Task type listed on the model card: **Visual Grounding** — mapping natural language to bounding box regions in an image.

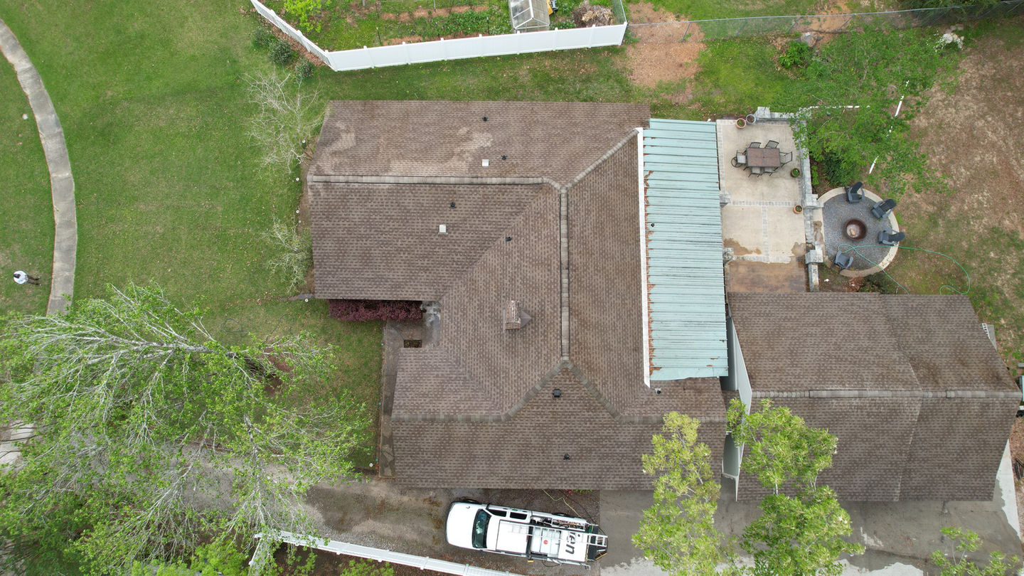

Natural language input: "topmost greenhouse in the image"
[513,0,552,33]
